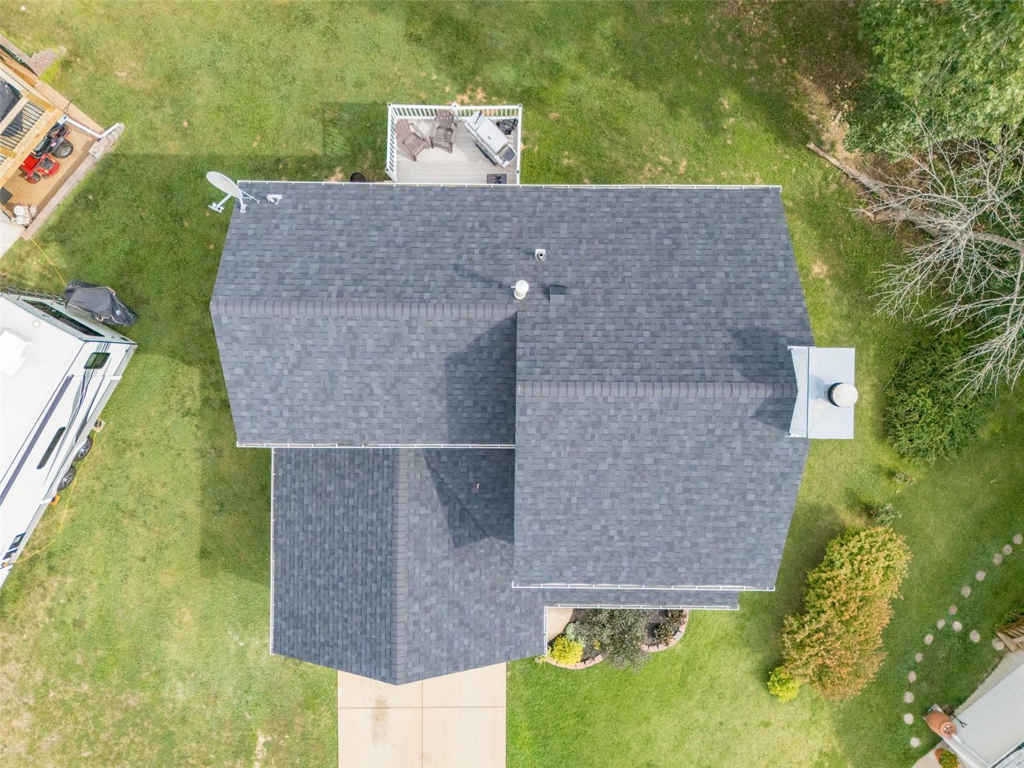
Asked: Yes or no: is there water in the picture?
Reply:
No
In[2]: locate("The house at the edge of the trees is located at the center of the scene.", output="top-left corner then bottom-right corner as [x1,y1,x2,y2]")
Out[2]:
[212,182,860,684]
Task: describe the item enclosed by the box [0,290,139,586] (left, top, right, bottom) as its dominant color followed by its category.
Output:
white trailer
